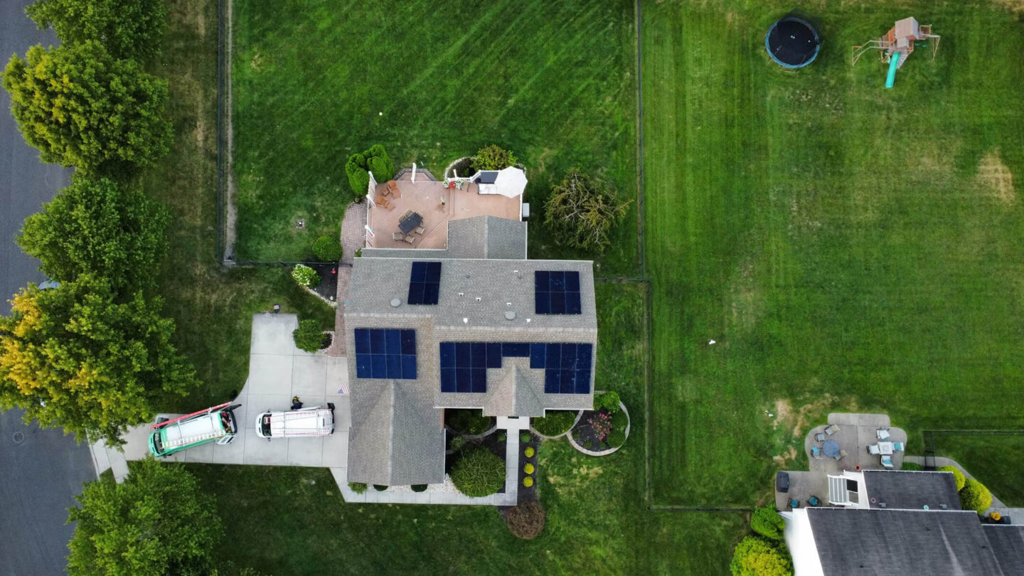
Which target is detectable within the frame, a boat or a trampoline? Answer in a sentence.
It is a trampoline that can be seen here.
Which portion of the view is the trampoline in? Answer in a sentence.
The trampoline is located in the top right region of the scene.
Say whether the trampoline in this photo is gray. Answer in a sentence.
No, from above the trampoline looks black.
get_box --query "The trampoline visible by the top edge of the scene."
[765,10,824,72]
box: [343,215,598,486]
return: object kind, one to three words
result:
house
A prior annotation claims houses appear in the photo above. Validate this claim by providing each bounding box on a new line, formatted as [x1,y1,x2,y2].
[343,215,598,486]
[783,468,1024,576]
